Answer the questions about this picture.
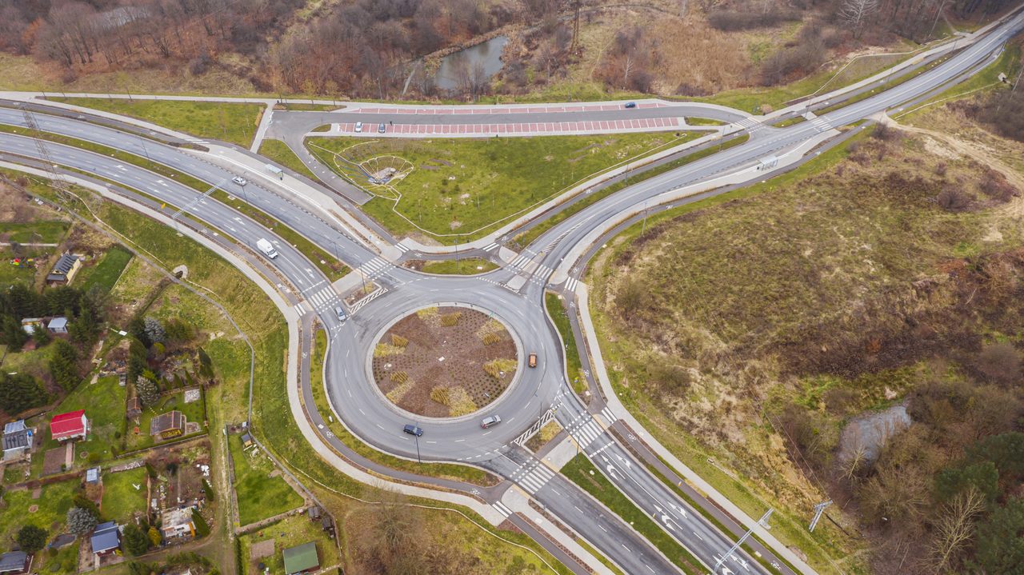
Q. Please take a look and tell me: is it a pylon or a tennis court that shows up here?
pylon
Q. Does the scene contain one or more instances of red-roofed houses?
Yes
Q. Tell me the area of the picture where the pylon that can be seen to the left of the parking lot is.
top left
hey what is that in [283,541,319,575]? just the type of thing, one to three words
building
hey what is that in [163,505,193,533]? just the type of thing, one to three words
shed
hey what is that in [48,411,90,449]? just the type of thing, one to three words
house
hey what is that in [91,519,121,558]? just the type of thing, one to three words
house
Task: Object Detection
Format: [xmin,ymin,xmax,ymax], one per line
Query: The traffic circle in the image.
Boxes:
[328,279,560,457]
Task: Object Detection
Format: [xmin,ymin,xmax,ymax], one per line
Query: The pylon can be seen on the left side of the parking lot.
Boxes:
[10,110,71,201]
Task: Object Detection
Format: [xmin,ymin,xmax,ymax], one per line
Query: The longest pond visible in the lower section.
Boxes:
[829,404,915,475]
